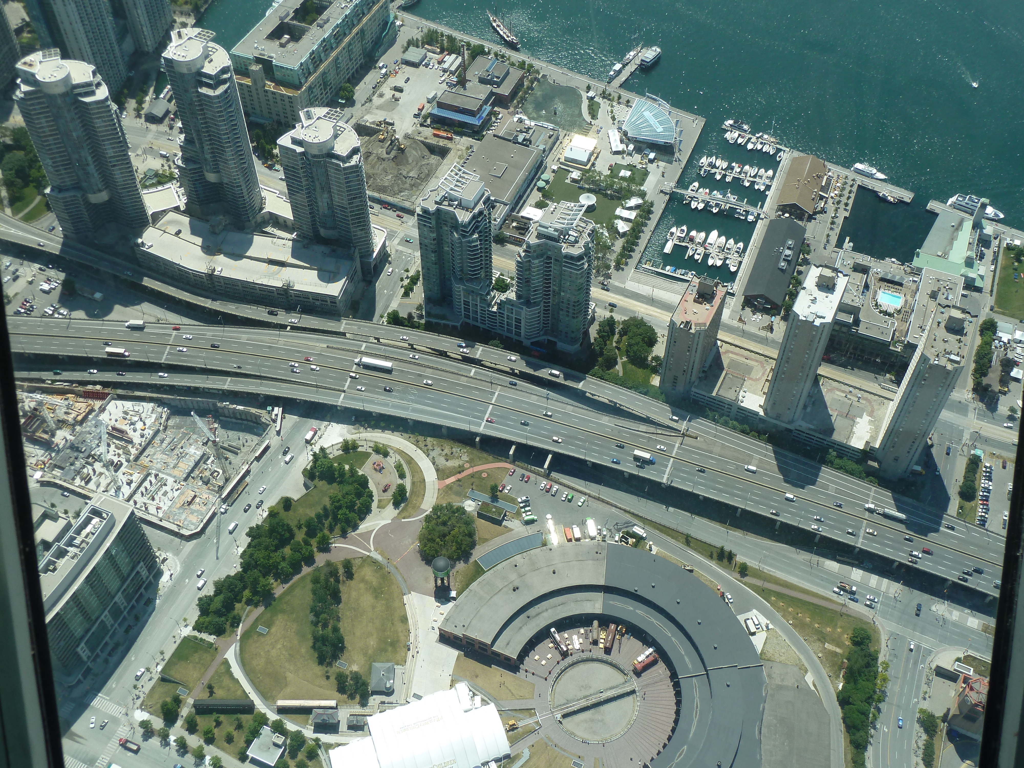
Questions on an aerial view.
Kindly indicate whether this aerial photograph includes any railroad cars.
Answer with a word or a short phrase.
Yes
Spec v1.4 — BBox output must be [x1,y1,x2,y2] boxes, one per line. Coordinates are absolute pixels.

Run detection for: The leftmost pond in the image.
[521,76,591,135]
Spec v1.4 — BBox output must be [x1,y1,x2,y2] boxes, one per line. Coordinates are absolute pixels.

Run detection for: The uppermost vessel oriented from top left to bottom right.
[488,3,523,46]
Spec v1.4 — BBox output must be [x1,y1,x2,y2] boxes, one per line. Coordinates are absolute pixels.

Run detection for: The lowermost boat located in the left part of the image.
[157,84,171,98]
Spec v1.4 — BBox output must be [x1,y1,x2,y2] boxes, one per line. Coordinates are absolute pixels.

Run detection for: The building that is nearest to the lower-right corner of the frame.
[942,674,989,746]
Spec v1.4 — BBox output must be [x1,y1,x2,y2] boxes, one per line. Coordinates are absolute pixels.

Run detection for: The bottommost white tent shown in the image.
[334,672,516,768]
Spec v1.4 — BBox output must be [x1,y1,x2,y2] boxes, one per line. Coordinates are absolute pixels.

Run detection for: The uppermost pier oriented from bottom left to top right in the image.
[611,47,647,88]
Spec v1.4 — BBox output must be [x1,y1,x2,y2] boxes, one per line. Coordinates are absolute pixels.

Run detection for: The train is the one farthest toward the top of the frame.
[879,380,899,393]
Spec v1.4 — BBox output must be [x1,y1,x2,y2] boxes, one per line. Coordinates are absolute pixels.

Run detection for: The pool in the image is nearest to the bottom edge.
[878,291,902,306]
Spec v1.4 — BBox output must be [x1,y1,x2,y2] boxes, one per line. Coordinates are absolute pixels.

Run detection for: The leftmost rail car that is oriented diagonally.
[549,625,569,654]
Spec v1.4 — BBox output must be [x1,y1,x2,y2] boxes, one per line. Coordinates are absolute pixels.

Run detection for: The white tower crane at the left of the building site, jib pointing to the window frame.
[16,390,73,434]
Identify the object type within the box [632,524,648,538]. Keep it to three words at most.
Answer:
vehicle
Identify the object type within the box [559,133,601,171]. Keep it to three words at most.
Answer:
tent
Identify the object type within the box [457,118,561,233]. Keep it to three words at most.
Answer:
building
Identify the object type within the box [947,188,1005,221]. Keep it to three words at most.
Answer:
ship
